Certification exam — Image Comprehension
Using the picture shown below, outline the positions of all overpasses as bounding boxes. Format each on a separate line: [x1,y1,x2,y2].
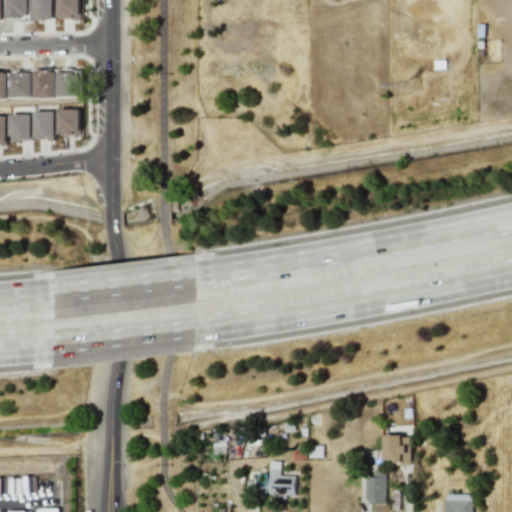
[48,250,202,370]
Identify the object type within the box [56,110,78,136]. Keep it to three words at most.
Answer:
house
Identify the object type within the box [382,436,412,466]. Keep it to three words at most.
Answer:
house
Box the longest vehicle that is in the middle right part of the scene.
[386,298,430,312]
